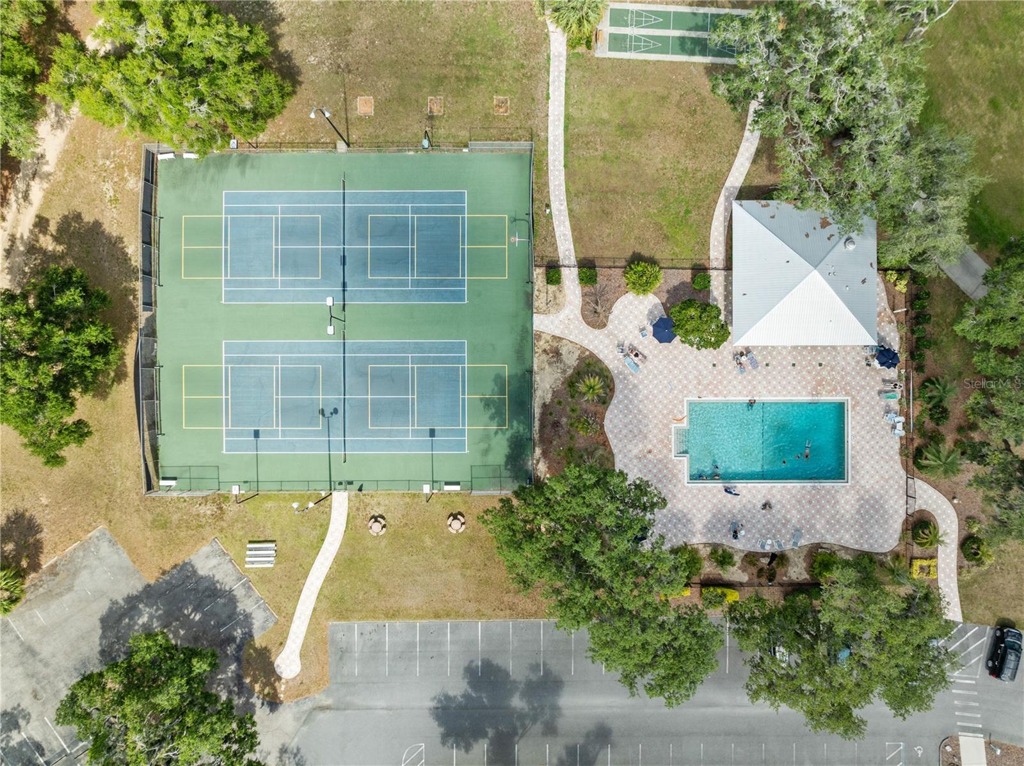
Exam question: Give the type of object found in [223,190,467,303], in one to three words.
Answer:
tennis court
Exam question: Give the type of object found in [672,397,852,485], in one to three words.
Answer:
swimming pool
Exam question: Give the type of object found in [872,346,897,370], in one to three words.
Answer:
umbrella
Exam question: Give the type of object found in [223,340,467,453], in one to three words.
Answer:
tennis court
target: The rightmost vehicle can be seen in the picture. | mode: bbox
[989,626,1024,682]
